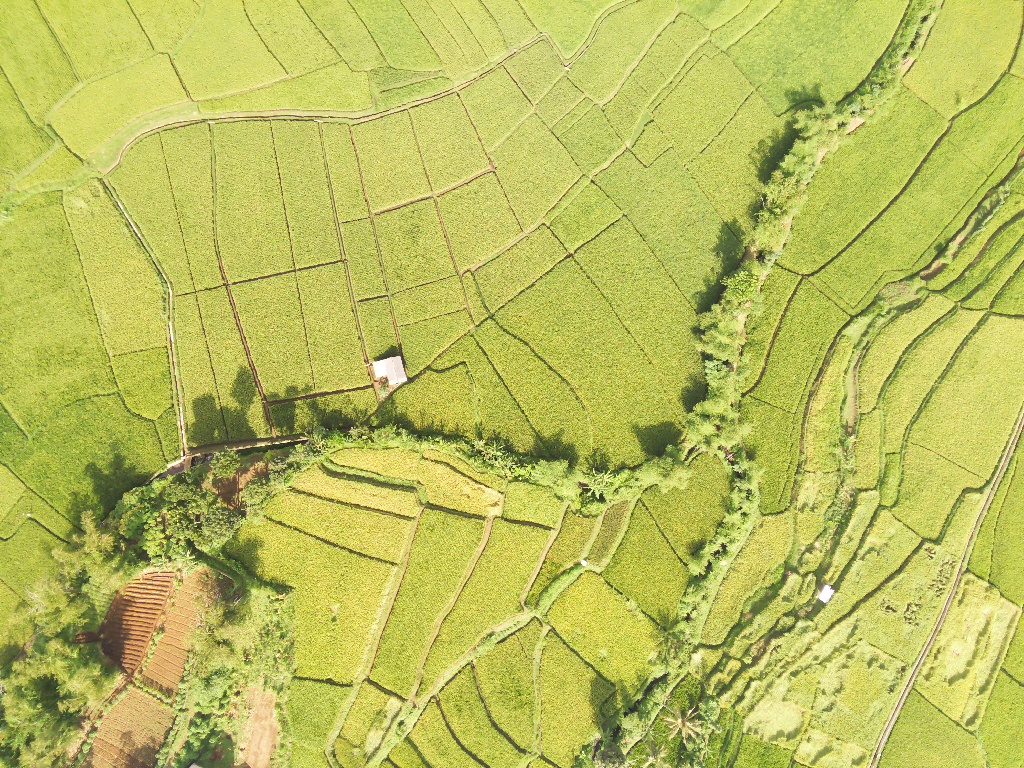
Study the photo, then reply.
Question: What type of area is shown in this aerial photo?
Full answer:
It's farmland.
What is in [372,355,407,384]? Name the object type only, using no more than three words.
shed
